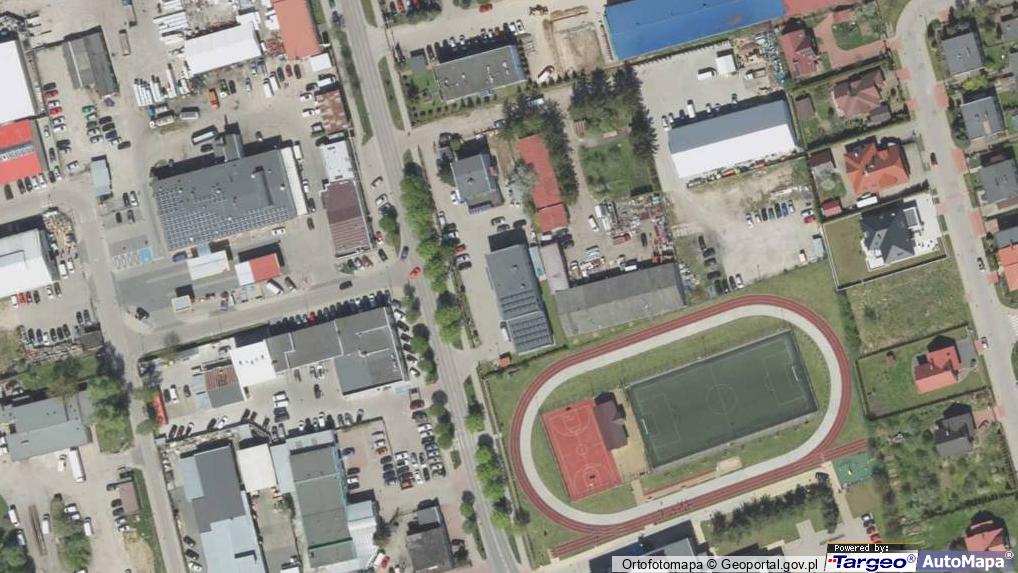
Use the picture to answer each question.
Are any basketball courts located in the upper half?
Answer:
No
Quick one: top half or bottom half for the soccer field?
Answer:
bottom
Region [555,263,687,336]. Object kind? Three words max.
shed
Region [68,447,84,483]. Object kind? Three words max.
vehicle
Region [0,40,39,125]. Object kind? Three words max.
building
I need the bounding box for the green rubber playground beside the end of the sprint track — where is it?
[833,451,872,484]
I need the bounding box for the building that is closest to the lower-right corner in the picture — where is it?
[964,528,1009,560]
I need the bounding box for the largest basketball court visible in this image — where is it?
[542,400,623,501]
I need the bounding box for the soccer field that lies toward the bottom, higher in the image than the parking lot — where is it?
[630,331,817,469]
